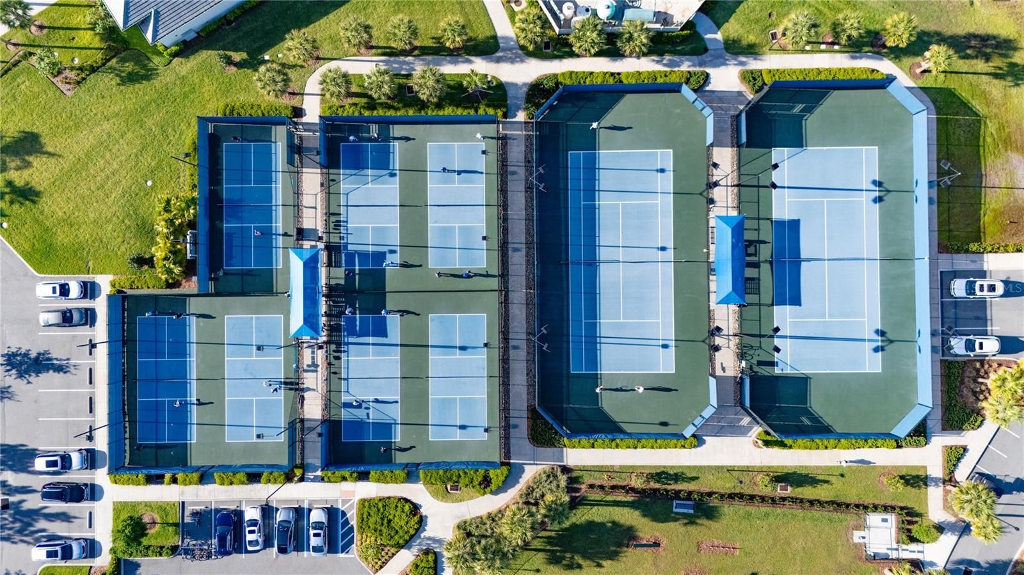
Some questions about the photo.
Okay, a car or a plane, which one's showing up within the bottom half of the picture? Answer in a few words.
car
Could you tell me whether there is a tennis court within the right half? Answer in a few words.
Yes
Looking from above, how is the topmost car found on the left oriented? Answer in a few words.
from side to side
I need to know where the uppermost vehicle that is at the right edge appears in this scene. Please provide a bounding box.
[948,277,1006,300]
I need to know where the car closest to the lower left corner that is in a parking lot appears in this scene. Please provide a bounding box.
[31,537,89,563]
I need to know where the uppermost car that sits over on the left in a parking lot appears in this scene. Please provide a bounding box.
[33,279,86,301]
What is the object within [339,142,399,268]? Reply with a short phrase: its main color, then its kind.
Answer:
blue sports court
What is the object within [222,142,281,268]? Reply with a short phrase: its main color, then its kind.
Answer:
blue sports court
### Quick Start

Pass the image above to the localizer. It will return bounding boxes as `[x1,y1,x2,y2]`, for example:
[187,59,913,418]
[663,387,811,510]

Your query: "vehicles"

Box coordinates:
[38,307,88,328]
[34,449,89,472]
[306,508,329,557]
[242,506,266,552]
[31,537,89,563]
[273,507,297,556]
[38,481,90,504]
[946,335,1002,357]
[33,279,86,301]
[948,277,1006,300]
[212,510,237,556]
